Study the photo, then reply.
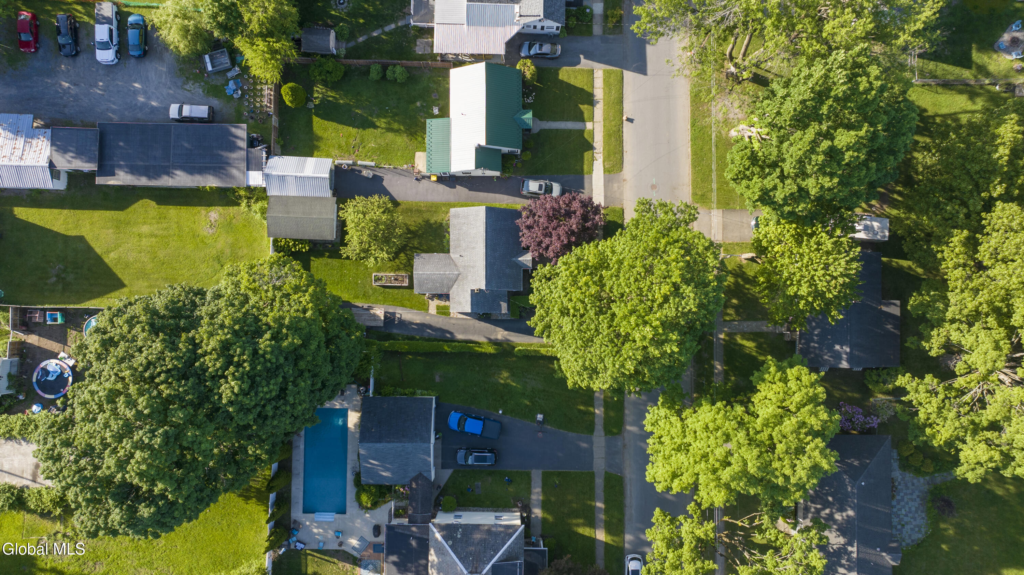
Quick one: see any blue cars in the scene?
Yes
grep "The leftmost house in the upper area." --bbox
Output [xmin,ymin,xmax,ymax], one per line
[0,114,67,190]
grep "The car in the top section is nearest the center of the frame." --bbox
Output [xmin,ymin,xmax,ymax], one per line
[520,178,562,198]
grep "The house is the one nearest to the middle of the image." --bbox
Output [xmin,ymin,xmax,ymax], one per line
[412,206,532,313]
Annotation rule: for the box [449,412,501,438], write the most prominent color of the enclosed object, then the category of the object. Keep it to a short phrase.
blue truck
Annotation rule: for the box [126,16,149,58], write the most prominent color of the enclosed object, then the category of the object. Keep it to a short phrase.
blue car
